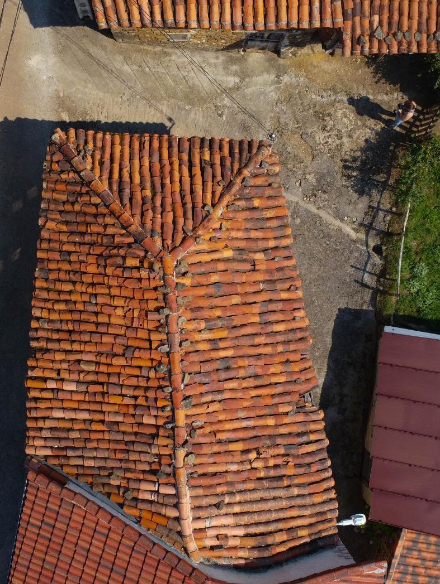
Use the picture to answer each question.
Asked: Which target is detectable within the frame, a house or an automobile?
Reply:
house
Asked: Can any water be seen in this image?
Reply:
No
